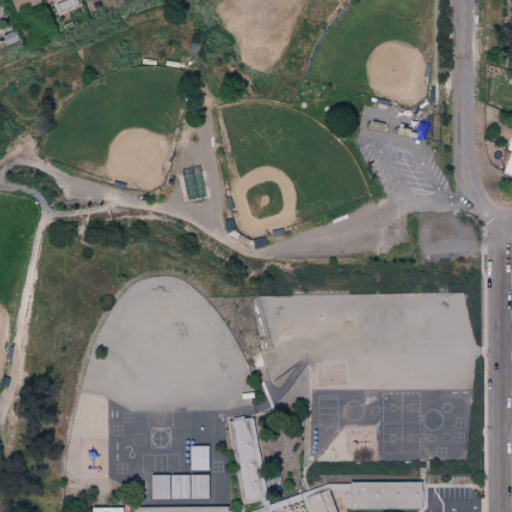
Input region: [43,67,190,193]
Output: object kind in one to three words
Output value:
baseball field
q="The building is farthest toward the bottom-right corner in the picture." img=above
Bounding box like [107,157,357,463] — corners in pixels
[352,482,423,510]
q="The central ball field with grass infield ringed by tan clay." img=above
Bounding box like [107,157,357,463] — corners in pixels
[218,102,369,238]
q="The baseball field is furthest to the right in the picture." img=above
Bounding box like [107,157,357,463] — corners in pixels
[306,0,434,110]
